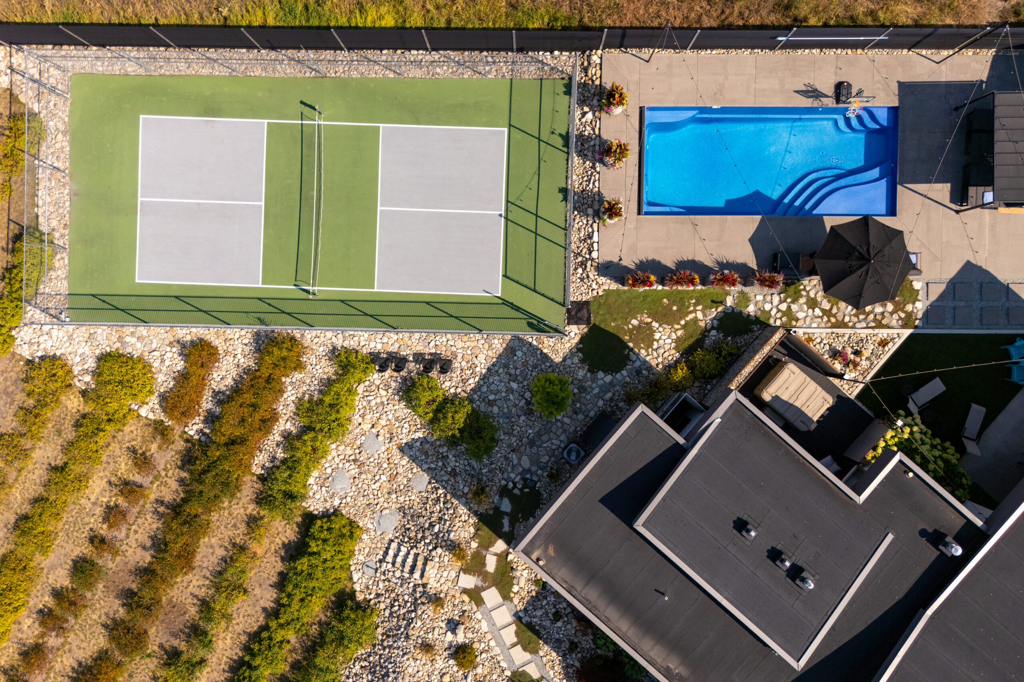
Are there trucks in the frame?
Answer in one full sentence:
No, I can see no truck in this picture.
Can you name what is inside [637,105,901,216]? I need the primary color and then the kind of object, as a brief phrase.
blue swimming pool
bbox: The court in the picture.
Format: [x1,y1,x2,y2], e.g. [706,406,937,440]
[68,73,572,335]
